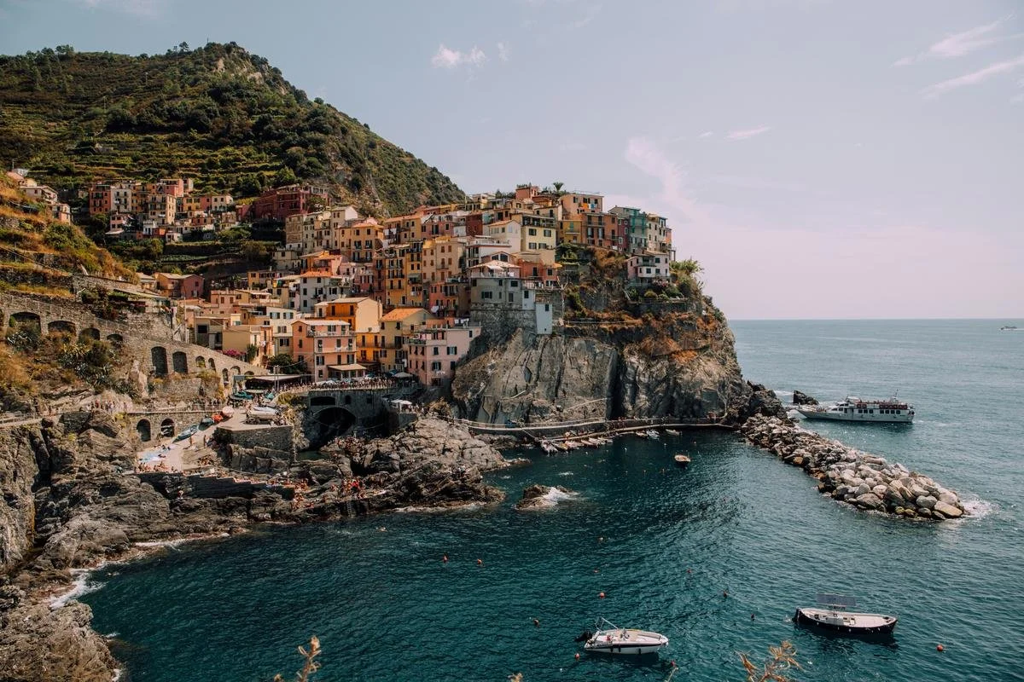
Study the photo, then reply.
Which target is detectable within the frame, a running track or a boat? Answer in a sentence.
Of the two, only a boat appears.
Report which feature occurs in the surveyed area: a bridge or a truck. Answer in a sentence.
The one in the frame is a bridge.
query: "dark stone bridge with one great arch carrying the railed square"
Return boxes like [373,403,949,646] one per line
[287,383,424,447]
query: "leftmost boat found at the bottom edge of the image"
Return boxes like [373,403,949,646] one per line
[566,616,683,658]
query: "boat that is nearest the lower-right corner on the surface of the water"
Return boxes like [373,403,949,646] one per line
[796,585,915,639]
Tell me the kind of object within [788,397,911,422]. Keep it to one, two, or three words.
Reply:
ship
